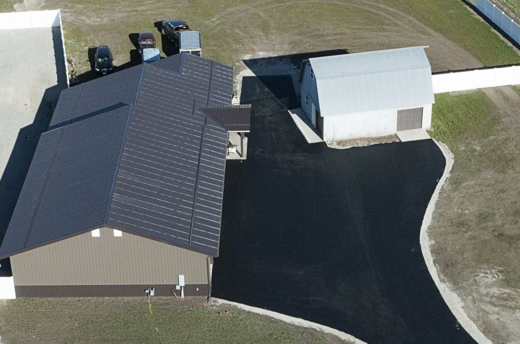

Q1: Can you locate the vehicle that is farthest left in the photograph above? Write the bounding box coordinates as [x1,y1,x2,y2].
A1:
[89,40,114,73]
